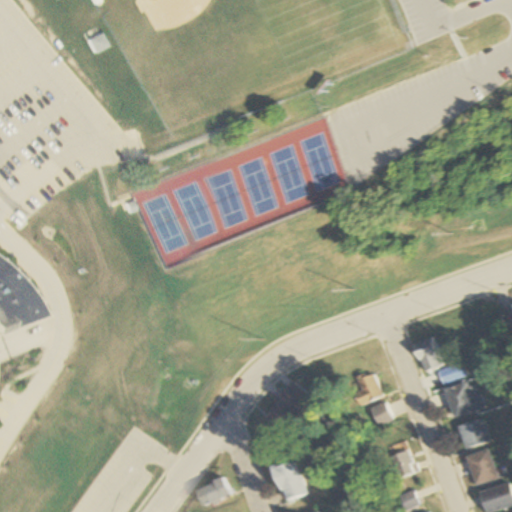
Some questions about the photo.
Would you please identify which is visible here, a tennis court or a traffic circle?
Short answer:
tennis court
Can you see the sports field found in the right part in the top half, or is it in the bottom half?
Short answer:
top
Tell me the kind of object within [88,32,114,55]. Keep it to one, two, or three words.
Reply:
shed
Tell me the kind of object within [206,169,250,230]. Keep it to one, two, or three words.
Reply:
tennis court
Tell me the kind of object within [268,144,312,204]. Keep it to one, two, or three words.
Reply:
tennis court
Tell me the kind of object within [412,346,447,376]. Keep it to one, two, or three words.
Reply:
house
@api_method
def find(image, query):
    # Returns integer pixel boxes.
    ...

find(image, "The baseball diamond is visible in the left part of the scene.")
[136,0,210,32]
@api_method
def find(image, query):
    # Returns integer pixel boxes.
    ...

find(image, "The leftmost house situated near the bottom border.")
[198,476,238,506]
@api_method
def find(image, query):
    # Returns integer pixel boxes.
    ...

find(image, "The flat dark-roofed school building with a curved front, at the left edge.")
[0,252,54,333]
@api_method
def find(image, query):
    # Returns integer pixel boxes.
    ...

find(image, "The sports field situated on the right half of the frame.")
[259,0,404,90]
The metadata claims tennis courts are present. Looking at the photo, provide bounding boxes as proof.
[174,182,218,242]
[268,144,312,204]
[206,169,250,230]
[143,194,187,254]
[300,132,344,192]
[238,157,281,217]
